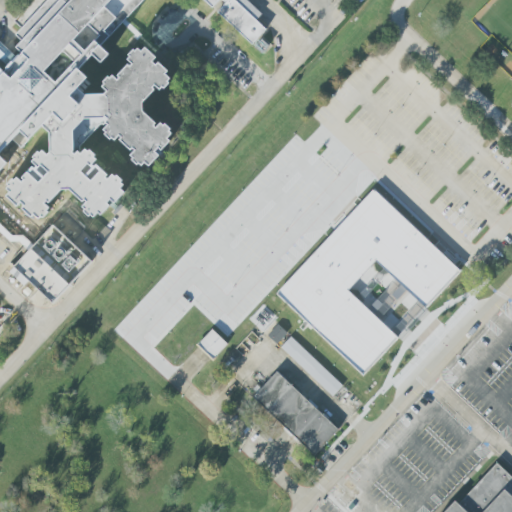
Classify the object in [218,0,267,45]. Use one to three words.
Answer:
building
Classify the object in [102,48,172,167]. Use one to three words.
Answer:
building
